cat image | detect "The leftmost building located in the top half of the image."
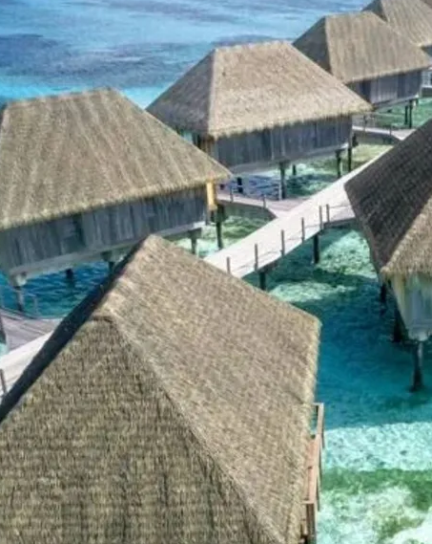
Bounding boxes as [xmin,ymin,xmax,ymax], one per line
[0,86,229,329]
